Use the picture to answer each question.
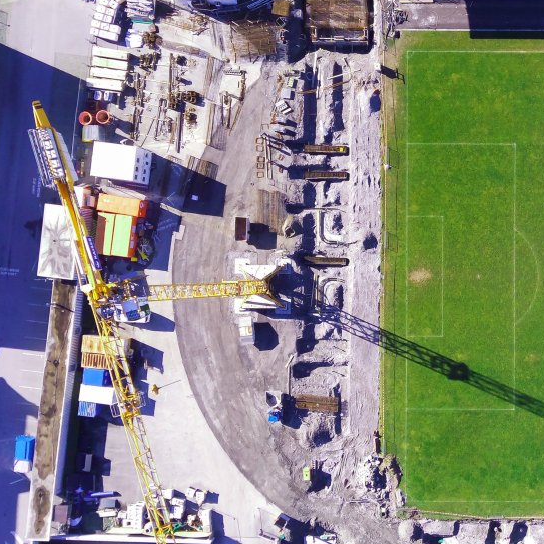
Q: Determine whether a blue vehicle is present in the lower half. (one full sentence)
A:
Yes, a blue vehicle can be seen in the lower half.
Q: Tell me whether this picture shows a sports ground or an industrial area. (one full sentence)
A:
This image shows a sports ground.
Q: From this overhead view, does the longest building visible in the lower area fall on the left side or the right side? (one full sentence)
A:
You can find the longest building visible in the lower area on the left side of the picture.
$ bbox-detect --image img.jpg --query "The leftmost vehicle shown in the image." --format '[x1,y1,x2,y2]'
[15,434,36,473]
